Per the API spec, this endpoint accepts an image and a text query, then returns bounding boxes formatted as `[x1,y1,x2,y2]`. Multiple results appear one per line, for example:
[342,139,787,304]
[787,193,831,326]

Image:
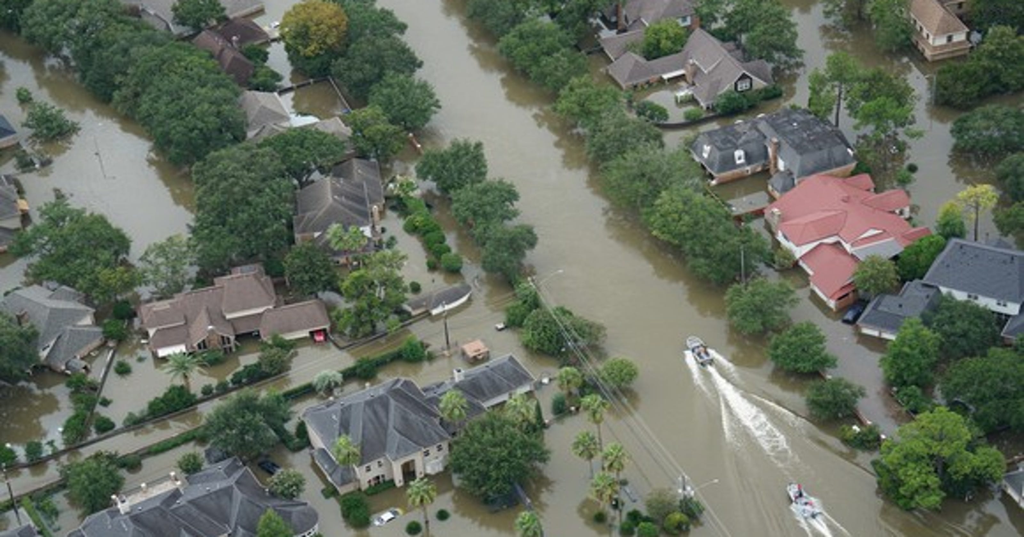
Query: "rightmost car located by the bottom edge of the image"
[371,506,405,528]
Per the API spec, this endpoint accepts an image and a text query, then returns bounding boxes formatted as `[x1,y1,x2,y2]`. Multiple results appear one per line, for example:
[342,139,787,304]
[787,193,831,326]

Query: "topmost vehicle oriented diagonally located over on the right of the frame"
[841,302,867,323]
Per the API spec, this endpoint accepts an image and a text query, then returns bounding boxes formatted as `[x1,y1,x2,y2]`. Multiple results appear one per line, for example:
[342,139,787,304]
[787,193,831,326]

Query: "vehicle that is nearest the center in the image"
[493,322,512,334]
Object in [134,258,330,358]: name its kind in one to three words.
house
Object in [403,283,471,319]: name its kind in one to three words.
building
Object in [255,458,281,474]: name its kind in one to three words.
car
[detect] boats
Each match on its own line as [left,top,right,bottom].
[786,482,825,520]
[687,336,720,370]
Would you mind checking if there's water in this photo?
Yes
